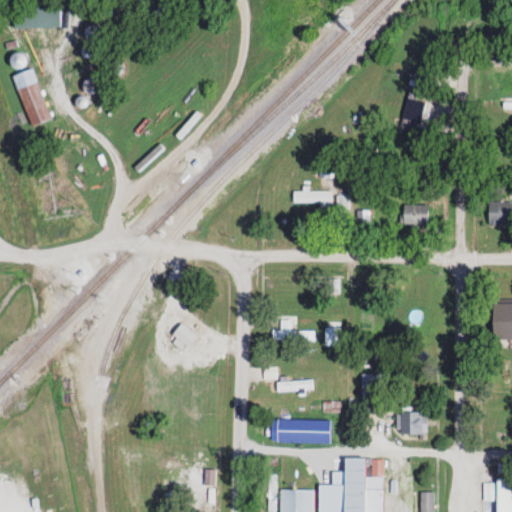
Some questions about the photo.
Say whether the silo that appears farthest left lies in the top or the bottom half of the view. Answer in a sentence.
The top half of the photo is where the silo that appears farthest left is.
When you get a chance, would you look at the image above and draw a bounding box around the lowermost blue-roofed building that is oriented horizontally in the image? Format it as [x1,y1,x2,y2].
[272,419,333,445]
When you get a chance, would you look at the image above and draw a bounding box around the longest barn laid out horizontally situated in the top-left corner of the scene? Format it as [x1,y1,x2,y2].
[12,7,70,28]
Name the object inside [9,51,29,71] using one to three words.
silo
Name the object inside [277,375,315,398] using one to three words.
house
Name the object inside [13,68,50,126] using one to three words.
barn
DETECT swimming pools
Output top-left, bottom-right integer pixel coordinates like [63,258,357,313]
[408,308,424,327]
